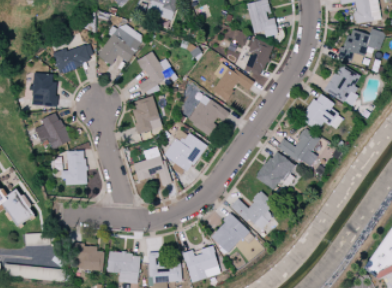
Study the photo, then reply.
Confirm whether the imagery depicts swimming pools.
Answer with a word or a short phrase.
Yes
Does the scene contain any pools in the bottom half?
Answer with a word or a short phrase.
No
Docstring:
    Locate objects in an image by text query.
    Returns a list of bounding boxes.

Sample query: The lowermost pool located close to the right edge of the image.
[360,72,384,105]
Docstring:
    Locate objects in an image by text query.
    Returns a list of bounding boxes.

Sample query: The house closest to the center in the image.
[169,130,206,169]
